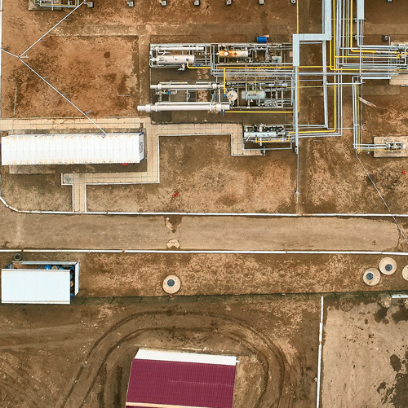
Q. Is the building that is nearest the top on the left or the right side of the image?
left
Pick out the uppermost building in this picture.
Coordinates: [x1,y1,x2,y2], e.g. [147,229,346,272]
[1,132,146,165]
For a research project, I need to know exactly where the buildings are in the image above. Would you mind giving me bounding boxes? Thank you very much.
[125,350,240,408]
[1,132,146,165]
[1,262,80,305]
